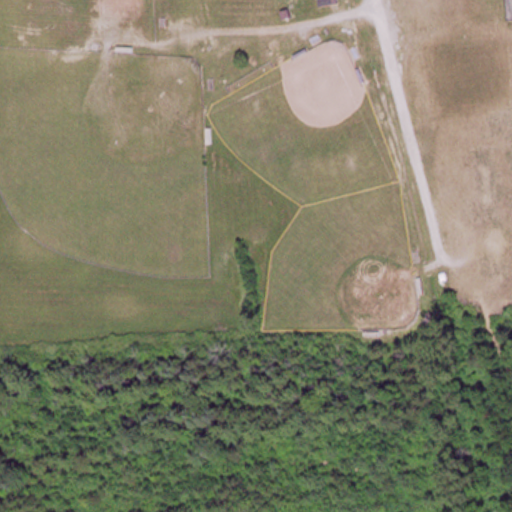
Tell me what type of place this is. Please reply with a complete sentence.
It's a sports ground.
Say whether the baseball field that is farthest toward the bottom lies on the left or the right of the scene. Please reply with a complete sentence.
You can find the baseball field that is farthest toward the bottom on the right side of the picture.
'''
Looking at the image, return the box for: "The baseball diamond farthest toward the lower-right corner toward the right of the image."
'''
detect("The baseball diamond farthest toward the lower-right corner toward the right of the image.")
[264,182,418,331]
